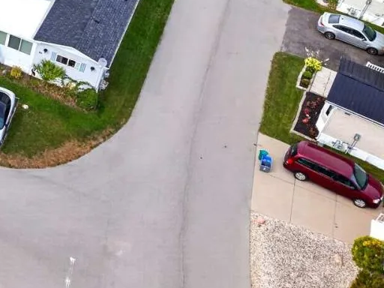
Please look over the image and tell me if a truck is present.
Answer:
No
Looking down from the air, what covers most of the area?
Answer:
paved ground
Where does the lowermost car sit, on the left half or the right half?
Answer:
right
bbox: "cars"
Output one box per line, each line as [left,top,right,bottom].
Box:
[287,140,384,211]
[0,81,21,144]
[317,8,384,54]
